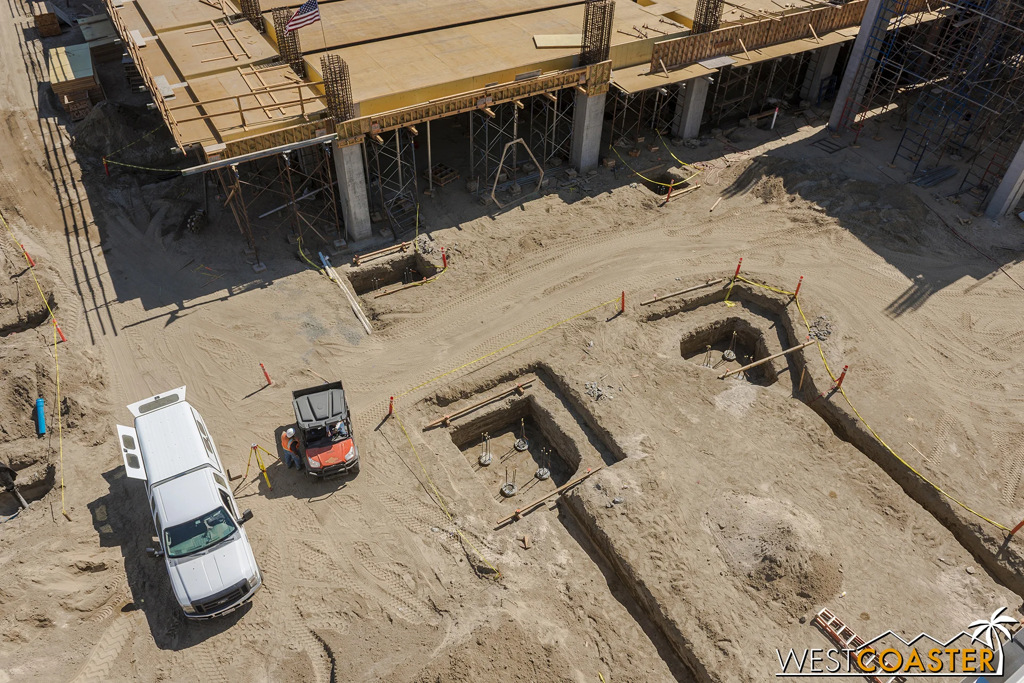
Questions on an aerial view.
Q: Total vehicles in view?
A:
2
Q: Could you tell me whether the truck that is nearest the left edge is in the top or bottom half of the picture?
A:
bottom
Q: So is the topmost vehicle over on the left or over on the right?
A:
left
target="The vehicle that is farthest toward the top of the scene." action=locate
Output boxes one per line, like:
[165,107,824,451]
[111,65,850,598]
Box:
[289,382,359,483]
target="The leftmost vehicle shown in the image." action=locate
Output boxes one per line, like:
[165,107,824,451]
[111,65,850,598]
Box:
[115,386,262,621]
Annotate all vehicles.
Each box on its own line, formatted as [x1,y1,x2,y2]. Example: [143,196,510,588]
[289,382,359,483]
[115,386,262,621]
